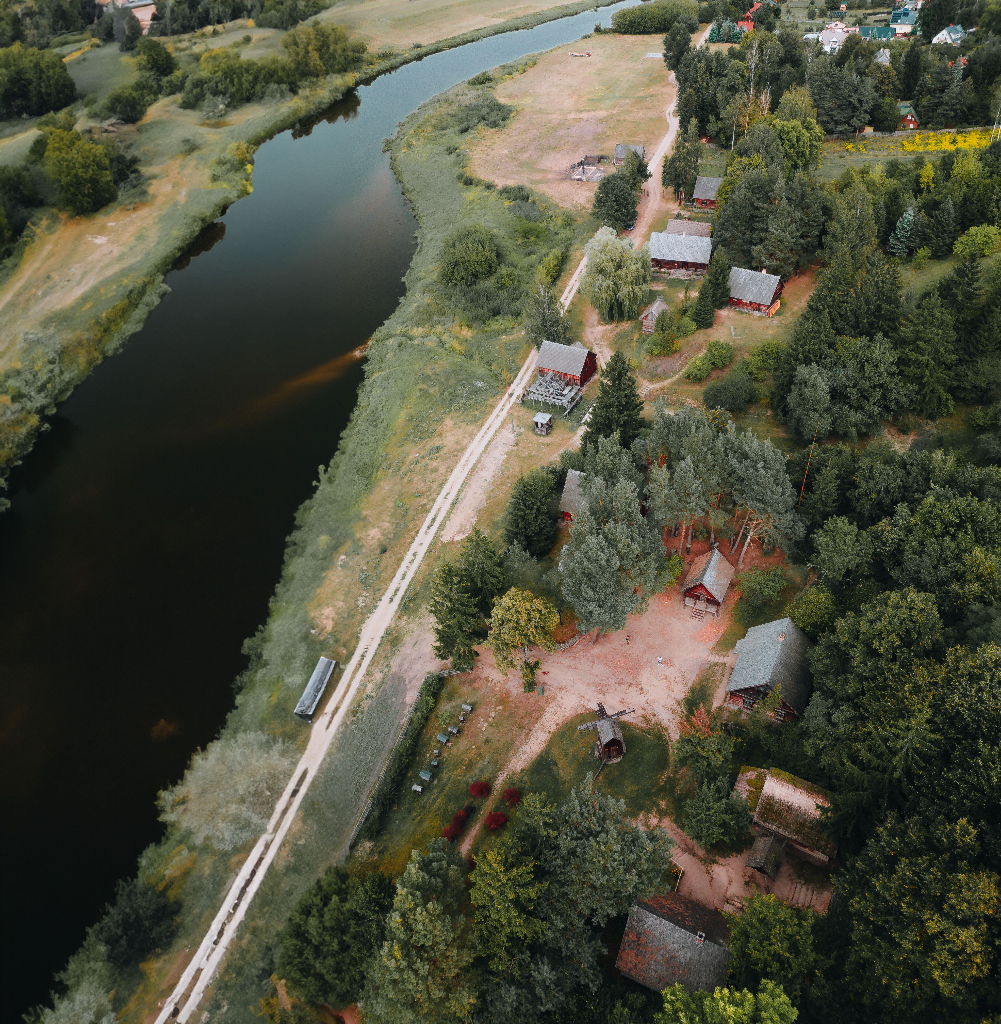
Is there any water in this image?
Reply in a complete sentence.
Yes, water shows up in the scene.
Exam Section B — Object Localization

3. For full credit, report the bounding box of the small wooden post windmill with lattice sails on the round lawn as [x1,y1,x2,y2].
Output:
[576,701,634,787]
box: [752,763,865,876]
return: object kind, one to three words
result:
barn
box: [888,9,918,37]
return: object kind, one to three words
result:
house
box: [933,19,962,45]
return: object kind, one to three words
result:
house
